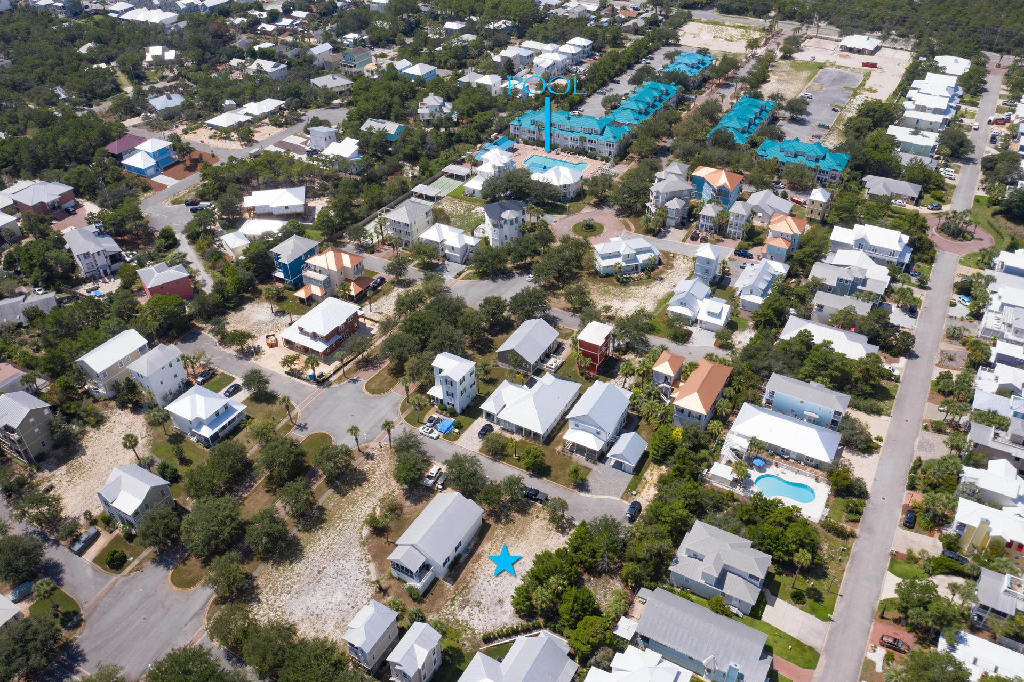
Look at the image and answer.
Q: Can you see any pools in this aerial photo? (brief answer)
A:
Yes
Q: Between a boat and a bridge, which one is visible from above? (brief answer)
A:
boat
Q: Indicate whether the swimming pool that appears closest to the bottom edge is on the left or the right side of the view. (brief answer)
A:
right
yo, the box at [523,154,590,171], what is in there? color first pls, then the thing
blue swimming pool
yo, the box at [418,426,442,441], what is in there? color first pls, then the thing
white car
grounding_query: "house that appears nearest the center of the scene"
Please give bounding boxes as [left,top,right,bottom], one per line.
[495,320,566,375]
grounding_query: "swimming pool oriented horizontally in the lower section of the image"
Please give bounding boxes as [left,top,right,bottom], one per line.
[754,473,818,504]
